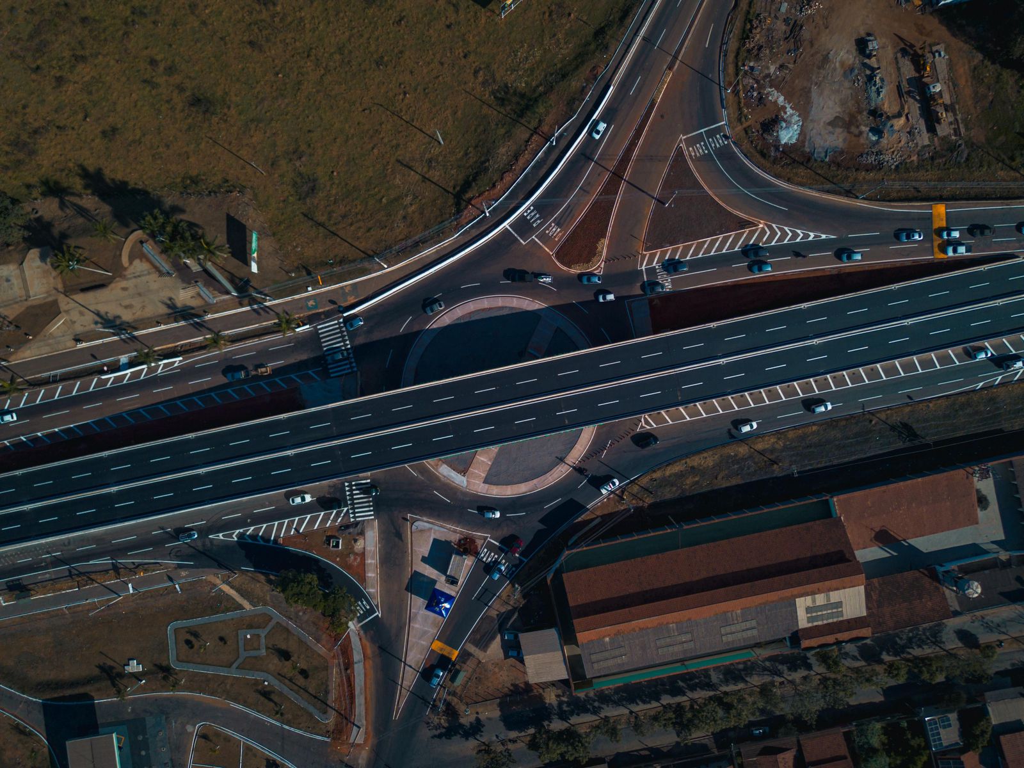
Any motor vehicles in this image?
Yes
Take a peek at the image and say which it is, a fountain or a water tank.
water tank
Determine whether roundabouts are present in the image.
Yes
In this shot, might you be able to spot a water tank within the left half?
No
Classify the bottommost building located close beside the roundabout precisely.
warehouse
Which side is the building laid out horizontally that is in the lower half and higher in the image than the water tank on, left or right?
right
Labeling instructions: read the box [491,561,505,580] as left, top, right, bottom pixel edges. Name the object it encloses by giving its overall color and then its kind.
blue car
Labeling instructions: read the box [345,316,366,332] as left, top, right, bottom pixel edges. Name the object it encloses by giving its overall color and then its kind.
blue car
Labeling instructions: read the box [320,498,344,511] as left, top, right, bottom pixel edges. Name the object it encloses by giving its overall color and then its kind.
black vehicle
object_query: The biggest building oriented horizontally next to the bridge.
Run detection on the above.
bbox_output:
[562,513,872,678]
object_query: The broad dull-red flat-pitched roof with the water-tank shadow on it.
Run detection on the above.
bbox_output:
[826,468,979,551]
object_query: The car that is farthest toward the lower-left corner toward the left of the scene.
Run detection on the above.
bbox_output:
[178,530,199,542]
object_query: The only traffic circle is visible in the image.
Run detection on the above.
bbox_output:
[398,294,595,497]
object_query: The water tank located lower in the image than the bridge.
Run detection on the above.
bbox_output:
[924,563,981,597]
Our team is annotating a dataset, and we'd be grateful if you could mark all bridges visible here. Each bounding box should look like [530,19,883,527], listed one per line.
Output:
[0,256,1024,551]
